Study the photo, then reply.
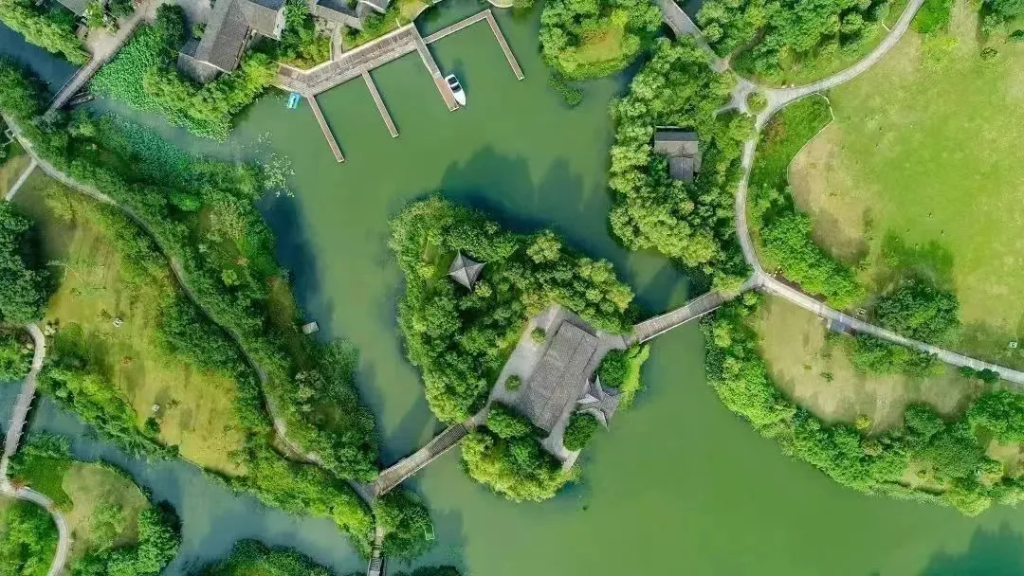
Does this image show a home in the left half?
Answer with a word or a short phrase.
Yes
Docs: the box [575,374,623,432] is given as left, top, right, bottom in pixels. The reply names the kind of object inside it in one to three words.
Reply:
building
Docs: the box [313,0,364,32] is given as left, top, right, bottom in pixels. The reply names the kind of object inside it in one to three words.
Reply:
house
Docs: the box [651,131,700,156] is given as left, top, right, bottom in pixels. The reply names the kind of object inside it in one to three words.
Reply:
house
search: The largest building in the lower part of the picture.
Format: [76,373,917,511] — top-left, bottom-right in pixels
[515,321,598,429]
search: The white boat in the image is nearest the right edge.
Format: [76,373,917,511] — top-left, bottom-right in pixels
[445,74,466,107]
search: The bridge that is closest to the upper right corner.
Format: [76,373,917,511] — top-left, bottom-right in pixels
[660,0,697,33]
